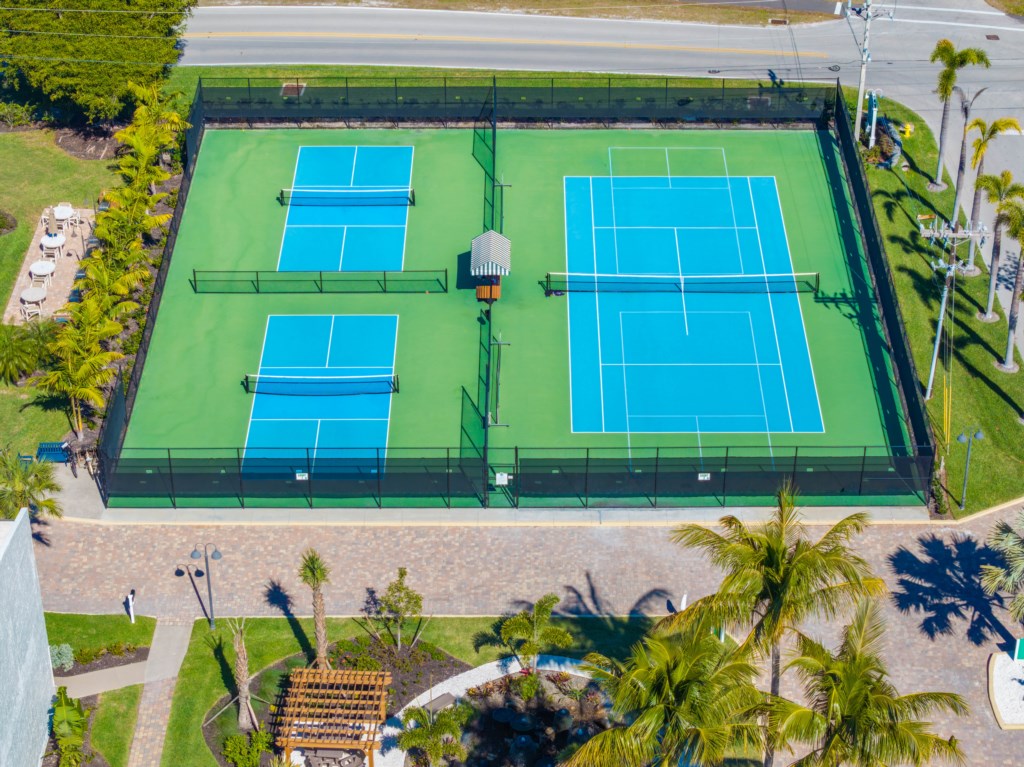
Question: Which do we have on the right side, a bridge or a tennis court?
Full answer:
Visible on the right side is a tennis court.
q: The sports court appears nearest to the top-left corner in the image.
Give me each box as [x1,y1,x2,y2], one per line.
[277,145,414,272]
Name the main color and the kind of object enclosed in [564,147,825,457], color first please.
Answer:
blue tennis court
